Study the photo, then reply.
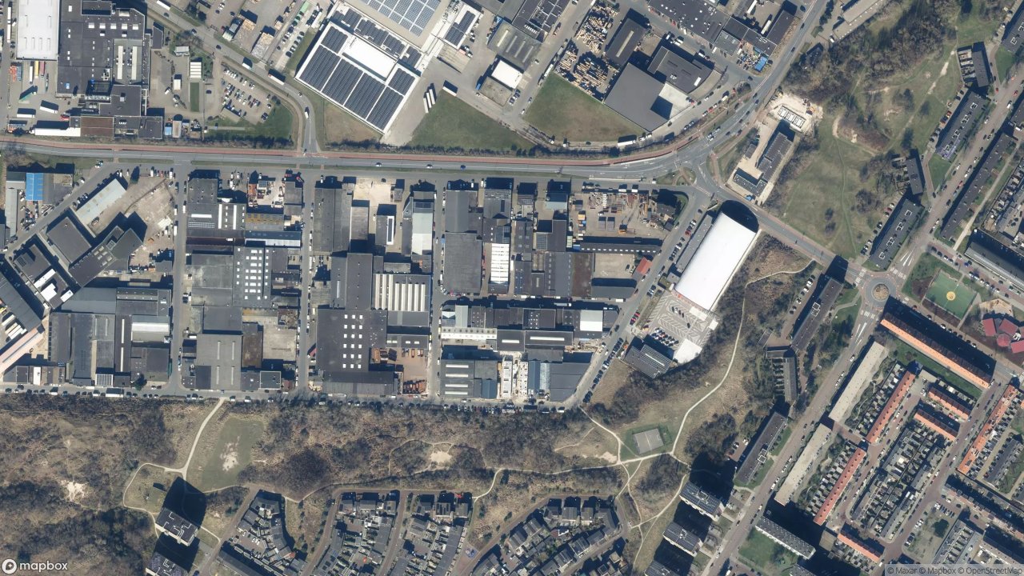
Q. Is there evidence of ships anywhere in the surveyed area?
No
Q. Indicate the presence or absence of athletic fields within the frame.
Yes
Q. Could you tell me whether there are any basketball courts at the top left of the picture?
No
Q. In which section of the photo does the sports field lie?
bottom left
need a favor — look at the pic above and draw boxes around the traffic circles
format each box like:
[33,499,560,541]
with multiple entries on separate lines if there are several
[860,272,898,310]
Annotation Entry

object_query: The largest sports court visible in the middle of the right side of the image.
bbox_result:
[925,269,976,319]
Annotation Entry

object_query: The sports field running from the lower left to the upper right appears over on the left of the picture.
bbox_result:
[201,418,263,489]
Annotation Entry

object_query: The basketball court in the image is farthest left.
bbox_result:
[632,428,664,453]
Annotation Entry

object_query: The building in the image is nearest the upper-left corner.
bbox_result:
[16,0,61,61]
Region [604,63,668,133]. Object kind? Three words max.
building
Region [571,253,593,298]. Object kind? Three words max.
building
